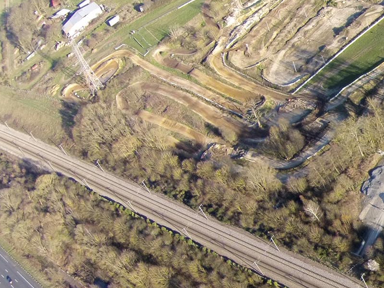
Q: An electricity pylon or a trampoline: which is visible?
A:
electricity pylon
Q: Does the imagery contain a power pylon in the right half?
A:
No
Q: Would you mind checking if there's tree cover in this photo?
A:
Yes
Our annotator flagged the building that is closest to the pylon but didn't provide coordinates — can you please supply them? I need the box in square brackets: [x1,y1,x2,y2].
[62,2,105,43]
